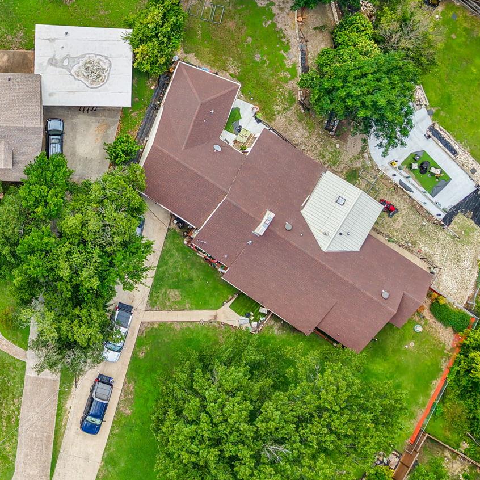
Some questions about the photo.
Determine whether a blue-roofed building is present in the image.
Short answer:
No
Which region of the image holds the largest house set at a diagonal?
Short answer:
center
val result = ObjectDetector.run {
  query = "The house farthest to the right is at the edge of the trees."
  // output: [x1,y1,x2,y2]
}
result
[138,61,433,354]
